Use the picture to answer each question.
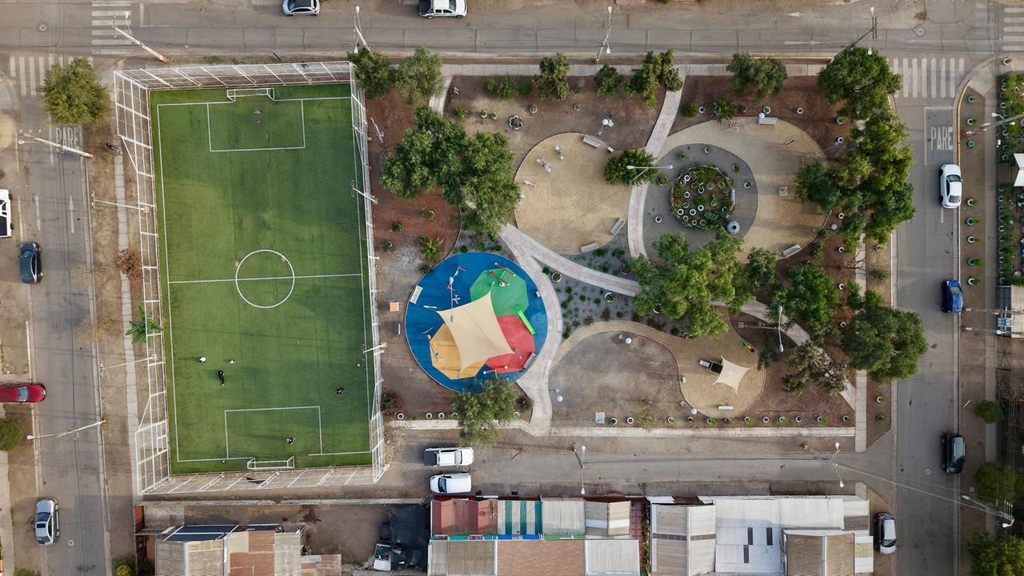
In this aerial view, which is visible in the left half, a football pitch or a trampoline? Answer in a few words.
football pitch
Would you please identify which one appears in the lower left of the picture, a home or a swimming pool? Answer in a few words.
home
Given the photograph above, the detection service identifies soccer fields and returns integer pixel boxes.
[150,79,387,475]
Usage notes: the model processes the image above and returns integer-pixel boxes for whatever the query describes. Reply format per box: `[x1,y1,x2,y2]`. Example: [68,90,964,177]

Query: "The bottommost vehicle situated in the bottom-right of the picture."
[869,509,896,552]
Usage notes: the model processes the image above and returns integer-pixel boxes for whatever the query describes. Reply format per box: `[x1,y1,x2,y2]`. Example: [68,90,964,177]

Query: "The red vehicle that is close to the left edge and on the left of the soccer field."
[0,383,42,405]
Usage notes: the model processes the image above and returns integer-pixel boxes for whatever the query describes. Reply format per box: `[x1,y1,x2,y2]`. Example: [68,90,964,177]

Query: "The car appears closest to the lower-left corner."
[31,499,58,546]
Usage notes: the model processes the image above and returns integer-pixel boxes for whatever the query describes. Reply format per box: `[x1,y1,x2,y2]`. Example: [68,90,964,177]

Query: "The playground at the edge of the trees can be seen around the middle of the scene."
[404,252,550,393]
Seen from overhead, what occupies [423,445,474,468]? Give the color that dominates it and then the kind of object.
white truck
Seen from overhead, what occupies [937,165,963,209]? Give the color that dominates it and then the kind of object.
white car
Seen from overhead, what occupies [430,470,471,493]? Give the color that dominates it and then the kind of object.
white vehicle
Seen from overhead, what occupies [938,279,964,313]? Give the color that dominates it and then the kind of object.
blue car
